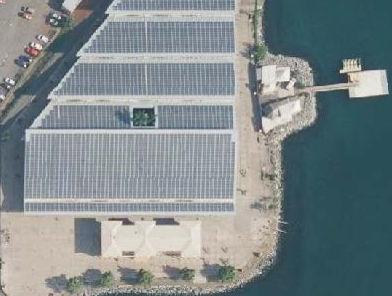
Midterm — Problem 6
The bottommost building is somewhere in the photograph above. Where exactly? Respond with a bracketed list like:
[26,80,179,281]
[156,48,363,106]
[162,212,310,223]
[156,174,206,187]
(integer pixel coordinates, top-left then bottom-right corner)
[101,220,200,257]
